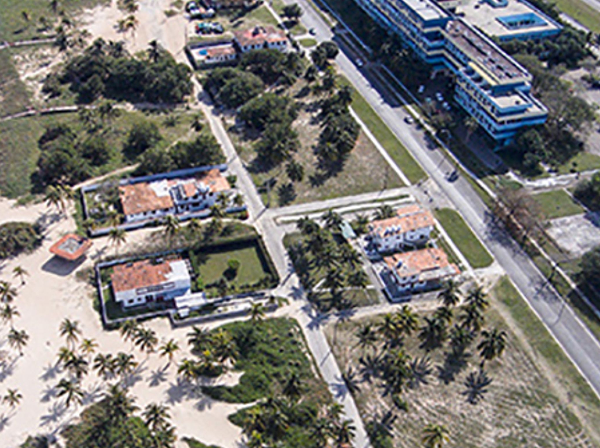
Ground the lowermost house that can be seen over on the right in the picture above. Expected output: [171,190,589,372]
[379,251,467,297]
